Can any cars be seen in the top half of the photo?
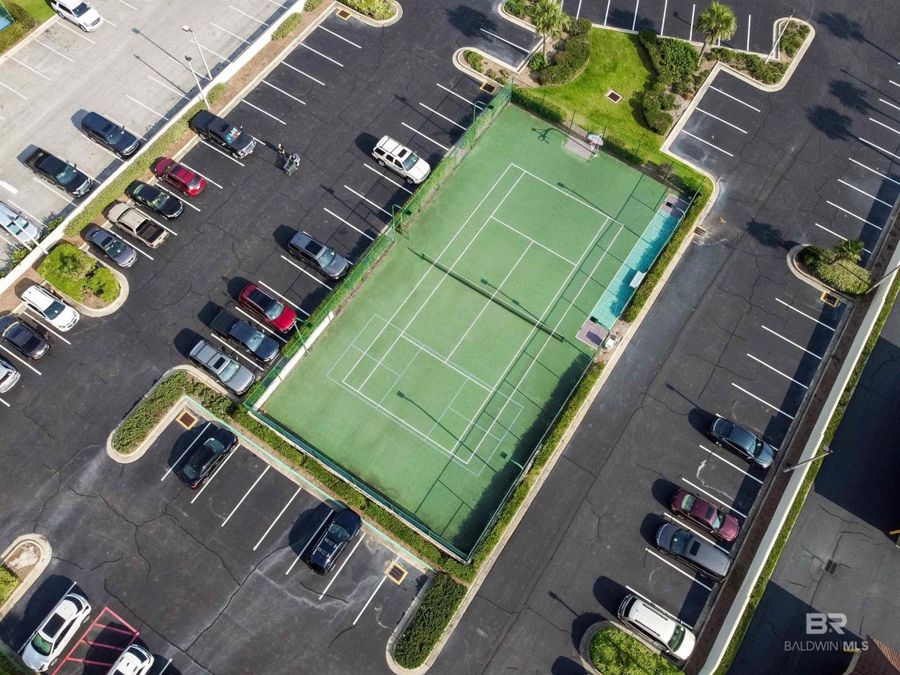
Yes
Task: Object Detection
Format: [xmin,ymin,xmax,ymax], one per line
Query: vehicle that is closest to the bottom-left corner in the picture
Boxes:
[22,592,95,673]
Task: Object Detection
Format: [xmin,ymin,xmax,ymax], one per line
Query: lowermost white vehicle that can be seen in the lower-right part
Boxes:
[616,592,694,661]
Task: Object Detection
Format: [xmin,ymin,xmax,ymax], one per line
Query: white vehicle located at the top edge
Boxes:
[50,0,105,35]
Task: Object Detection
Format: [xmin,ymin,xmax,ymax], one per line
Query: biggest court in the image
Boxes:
[258,103,691,562]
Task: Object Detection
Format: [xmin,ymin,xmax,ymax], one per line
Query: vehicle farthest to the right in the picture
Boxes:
[703,417,771,470]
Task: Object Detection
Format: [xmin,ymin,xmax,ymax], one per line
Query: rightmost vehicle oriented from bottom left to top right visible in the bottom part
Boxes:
[300,507,363,582]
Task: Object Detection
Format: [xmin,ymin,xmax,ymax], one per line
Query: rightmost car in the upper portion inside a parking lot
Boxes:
[370,135,430,183]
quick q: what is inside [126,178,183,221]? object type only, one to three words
car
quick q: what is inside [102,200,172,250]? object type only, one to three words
truck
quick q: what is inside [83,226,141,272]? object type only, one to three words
car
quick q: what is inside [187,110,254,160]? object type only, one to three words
truck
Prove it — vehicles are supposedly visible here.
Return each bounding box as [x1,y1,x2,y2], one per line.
[152,158,207,200]
[24,146,94,199]
[126,178,183,221]
[0,310,53,361]
[616,592,694,661]
[83,226,141,272]
[300,507,363,582]
[703,417,771,470]
[102,200,172,250]
[50,0,105,35]
[208,306,280,363]
[238,283,299,332]
[178,426,239,490]
[78,108,140,156]
[187,110,254,160]
[103,641,153,675]
[0,350,27,390]
[652,522,731,582]
[187,338,256,394]
[287,231,348,280]
[19,285,83,335]
[22,592,95,673]
[666,488,736,541]
[370,135,430,183]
